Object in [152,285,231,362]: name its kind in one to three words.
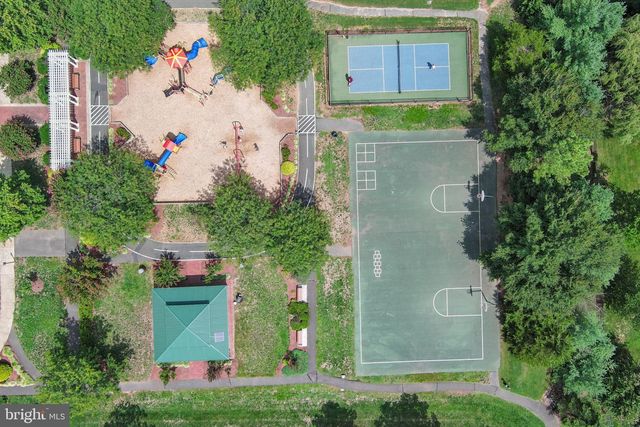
building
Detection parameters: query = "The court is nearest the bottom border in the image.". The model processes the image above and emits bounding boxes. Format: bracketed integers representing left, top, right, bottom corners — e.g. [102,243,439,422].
[349,126,500,376]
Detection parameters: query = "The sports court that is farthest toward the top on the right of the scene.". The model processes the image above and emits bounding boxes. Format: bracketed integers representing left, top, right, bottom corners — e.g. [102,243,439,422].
[328,31,469,105]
